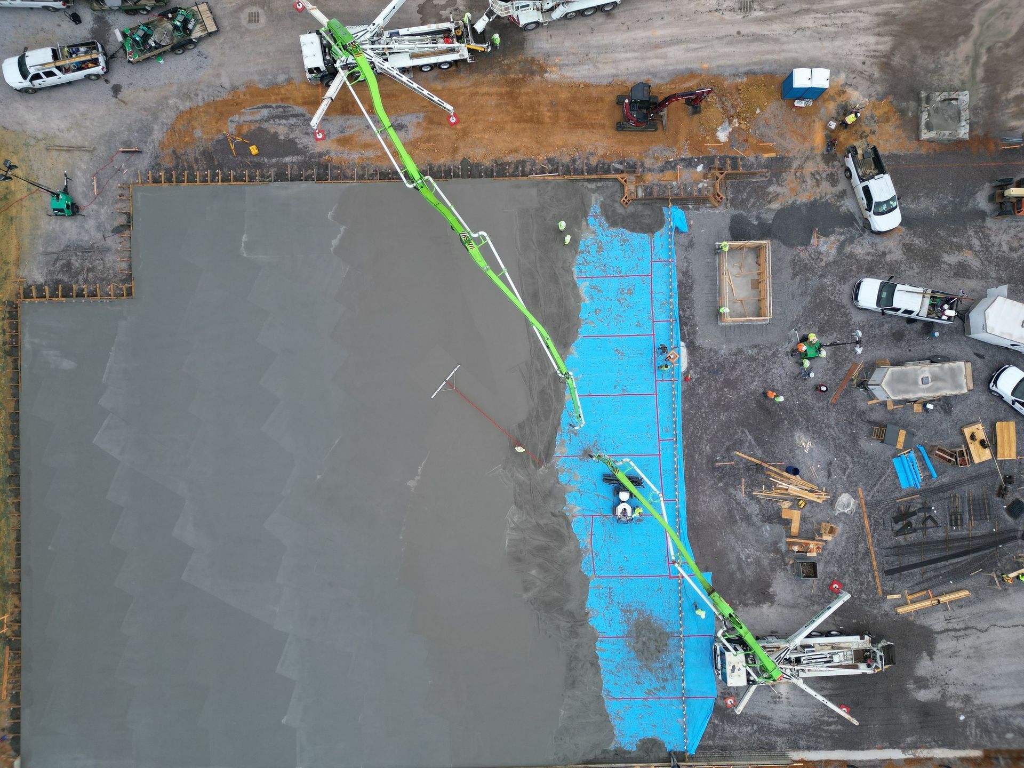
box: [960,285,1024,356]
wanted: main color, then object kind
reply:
white trailer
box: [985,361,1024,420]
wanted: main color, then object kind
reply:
white car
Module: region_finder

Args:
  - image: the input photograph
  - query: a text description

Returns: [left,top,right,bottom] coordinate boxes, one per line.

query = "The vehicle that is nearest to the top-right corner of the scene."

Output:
[978,176,1024,219]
